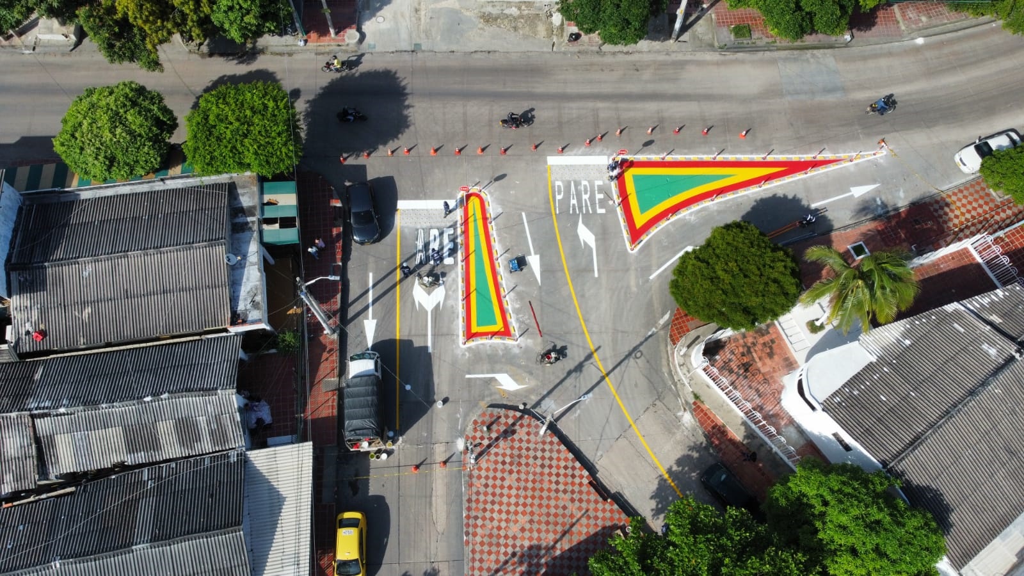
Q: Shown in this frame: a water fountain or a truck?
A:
truck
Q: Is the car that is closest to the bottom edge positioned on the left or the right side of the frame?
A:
left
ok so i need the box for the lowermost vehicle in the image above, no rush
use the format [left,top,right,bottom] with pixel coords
[331,509,368,576]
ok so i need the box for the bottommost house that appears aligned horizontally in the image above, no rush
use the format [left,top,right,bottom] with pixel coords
[0,451,253,576]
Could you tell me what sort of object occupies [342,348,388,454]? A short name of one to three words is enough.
truck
